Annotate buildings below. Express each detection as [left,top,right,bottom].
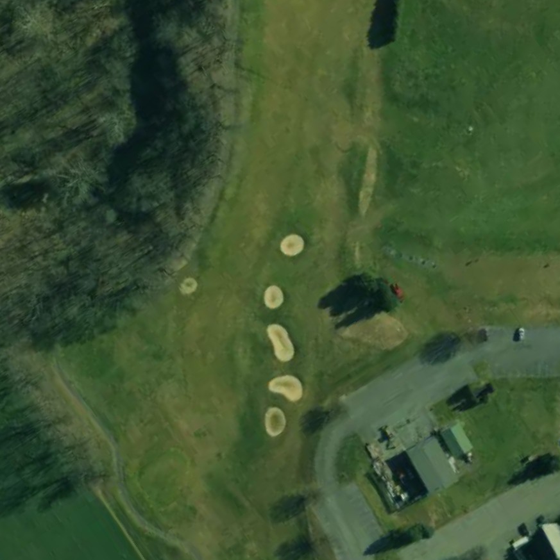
[512,518,560,560]
[407,436,457,494]
[441,425,472,459]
